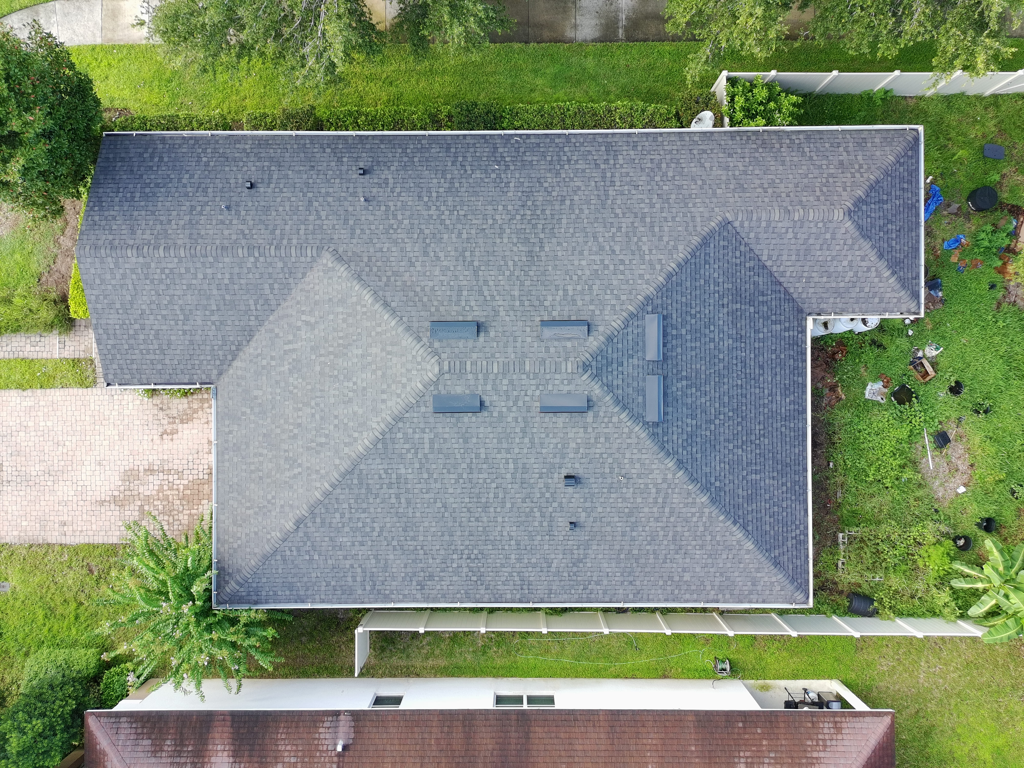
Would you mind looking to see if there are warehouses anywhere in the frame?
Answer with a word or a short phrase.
No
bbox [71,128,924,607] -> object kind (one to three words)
house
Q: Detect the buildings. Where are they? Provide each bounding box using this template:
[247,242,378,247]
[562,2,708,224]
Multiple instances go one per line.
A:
[71,128,924,607]
[55,676,898,768]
